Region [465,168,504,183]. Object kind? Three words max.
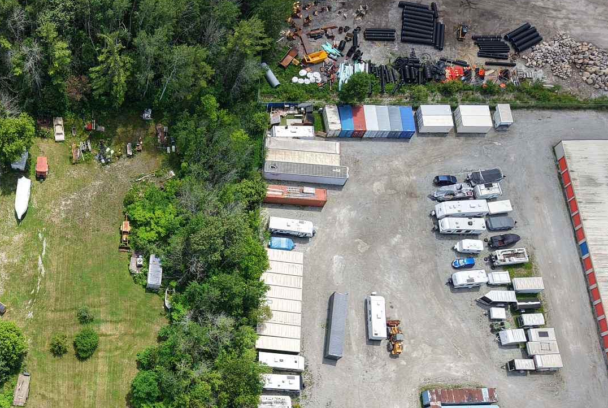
boat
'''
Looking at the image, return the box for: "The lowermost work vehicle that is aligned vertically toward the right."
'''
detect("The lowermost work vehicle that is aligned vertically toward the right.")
[386,322,404,355]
